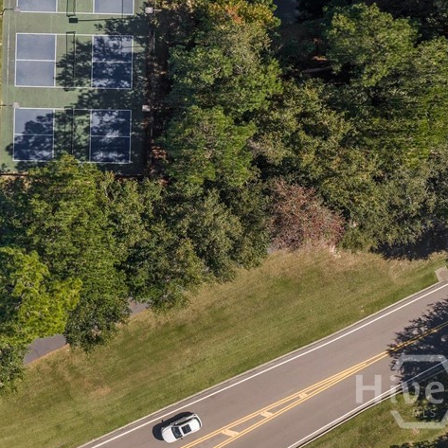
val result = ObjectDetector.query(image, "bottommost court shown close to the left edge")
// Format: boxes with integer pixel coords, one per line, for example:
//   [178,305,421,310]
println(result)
[0,98,148,174]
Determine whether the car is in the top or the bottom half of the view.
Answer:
bottom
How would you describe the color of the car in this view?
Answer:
white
